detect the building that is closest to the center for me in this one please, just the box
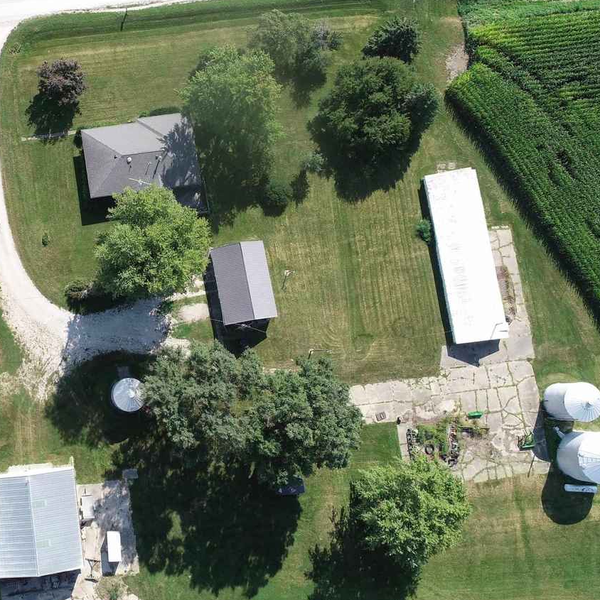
[210,240,277,325]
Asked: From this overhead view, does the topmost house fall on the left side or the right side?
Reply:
left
